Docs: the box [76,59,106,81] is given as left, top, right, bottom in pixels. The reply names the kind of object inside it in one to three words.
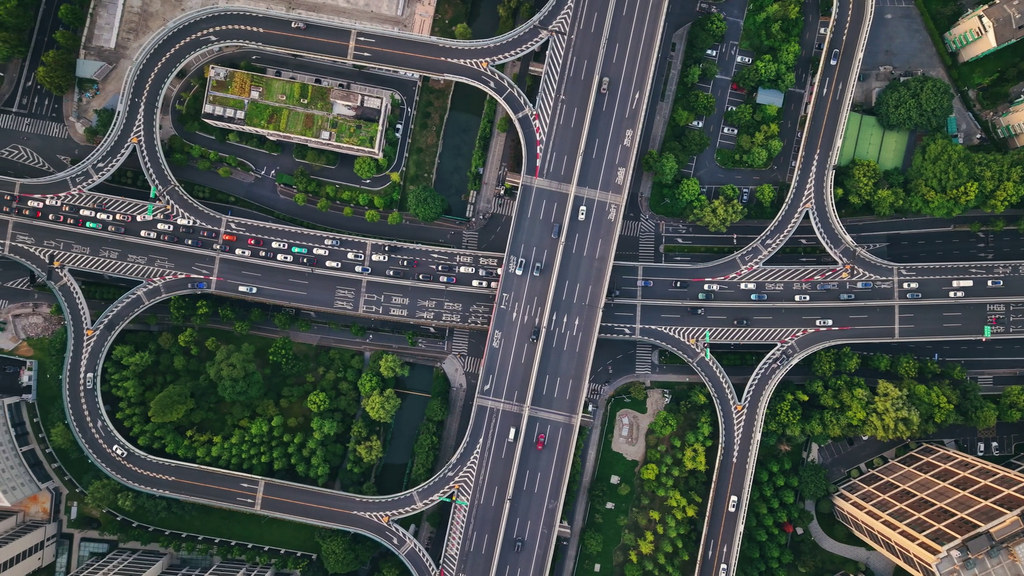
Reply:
shed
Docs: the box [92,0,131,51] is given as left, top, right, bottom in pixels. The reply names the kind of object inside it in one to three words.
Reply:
building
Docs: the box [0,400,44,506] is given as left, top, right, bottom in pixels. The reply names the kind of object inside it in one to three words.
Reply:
building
